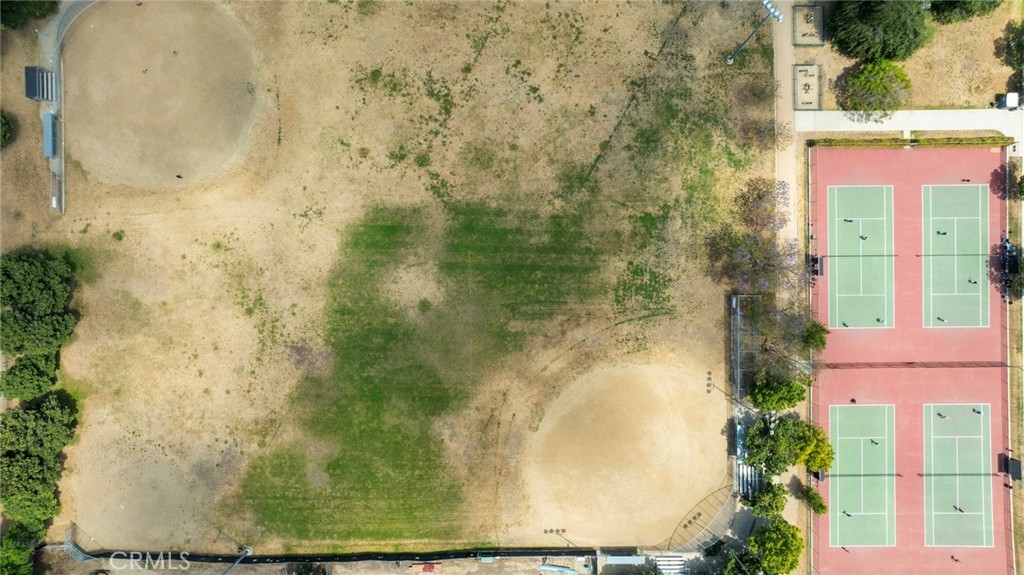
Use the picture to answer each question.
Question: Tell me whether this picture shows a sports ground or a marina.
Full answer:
The picture captures a sports ground.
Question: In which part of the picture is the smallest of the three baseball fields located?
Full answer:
The smallest of the three baseball fields sits in the bottom left section of the image.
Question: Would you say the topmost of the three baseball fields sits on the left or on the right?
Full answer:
The topmost of the three baseball fields is on the left side of the image.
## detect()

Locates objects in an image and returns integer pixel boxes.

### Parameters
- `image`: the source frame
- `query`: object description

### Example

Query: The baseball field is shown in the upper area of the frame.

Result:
[62,0,258,190]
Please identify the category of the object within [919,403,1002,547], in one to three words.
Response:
tennis court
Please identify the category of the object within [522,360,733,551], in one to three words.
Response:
baseball field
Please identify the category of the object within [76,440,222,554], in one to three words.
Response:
baseball field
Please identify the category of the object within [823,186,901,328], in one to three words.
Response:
tennis court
